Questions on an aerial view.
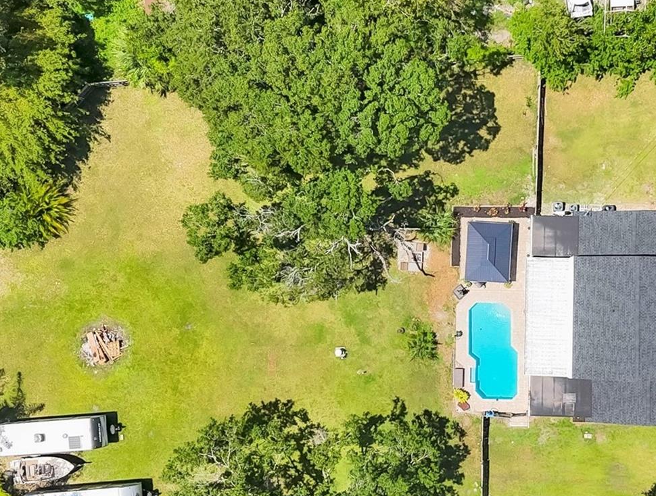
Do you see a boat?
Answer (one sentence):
Yes, a boat can be made out from above.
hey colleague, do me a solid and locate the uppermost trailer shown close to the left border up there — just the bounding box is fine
[0,414,129,456]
